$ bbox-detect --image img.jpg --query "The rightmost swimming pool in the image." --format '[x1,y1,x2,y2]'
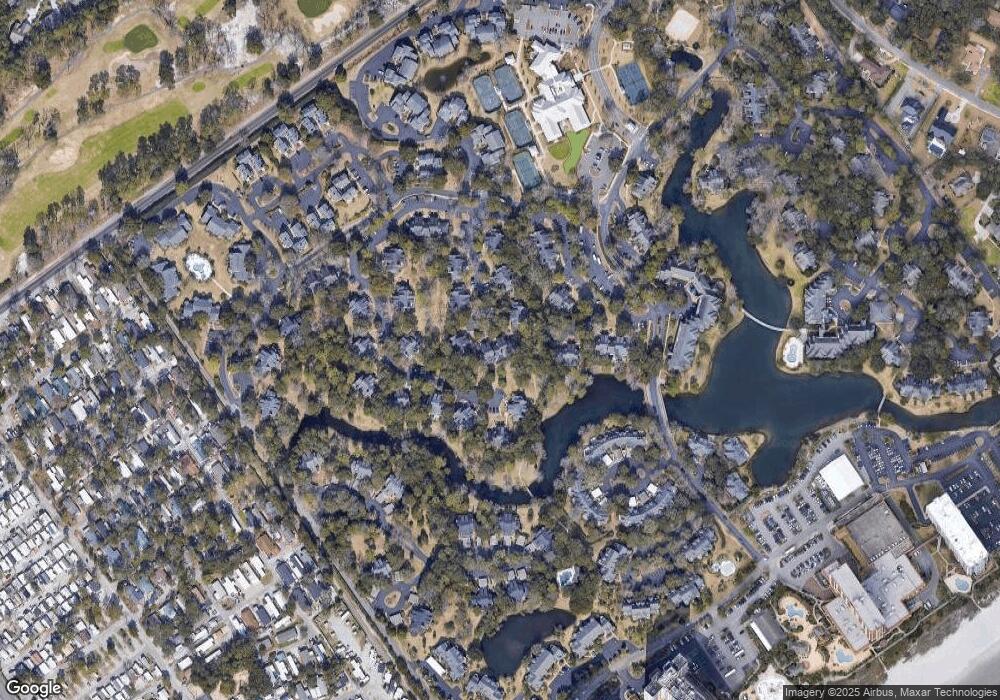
[944,573,972,593]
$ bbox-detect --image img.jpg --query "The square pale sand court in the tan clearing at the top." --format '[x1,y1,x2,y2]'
[665,9,701,41]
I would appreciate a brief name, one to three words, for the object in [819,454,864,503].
building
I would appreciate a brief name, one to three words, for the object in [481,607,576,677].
pond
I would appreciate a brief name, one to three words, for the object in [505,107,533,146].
tennis court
